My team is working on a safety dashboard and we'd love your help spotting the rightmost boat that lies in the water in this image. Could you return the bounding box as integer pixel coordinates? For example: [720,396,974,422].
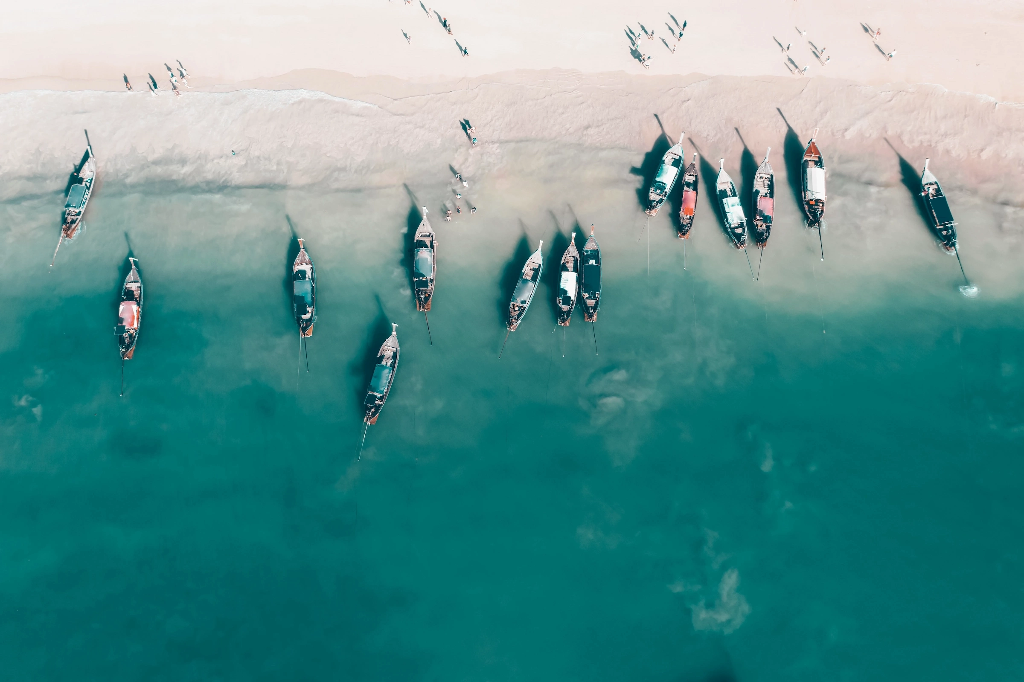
[919,157,968,285]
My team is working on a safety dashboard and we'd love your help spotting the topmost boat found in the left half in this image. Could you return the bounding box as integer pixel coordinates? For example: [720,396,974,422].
[50,146,99,267]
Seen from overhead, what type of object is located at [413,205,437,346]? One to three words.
boat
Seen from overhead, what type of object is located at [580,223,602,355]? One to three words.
boat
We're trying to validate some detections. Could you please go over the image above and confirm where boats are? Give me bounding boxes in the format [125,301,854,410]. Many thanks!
[800,128,826,260]
[557,232,580,357]
[498,240,543,359]
[678,153,699,251]
[714,158,755,280]
[413,205,437,346]
[580,223,602,355]
[357,322,401,461]
[919,157,968,285]
[637,131,685,242]
[293,238,318,372]
[113,257,145,397]
[50,146,99,267]
[751,146,775,281]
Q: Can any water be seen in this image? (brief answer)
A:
Yes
